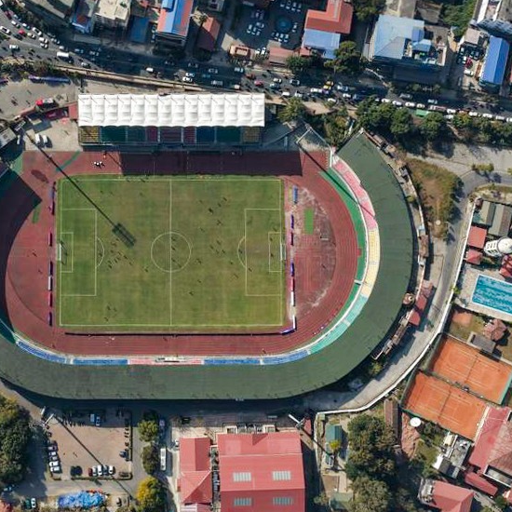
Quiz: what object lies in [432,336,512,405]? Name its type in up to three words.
tennis court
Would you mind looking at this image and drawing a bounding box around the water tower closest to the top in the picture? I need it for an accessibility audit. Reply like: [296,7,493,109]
[482,238,512,256]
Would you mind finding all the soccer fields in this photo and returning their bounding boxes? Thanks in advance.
[53,174,288,330]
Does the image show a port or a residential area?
residential area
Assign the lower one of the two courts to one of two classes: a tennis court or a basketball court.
tennis court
